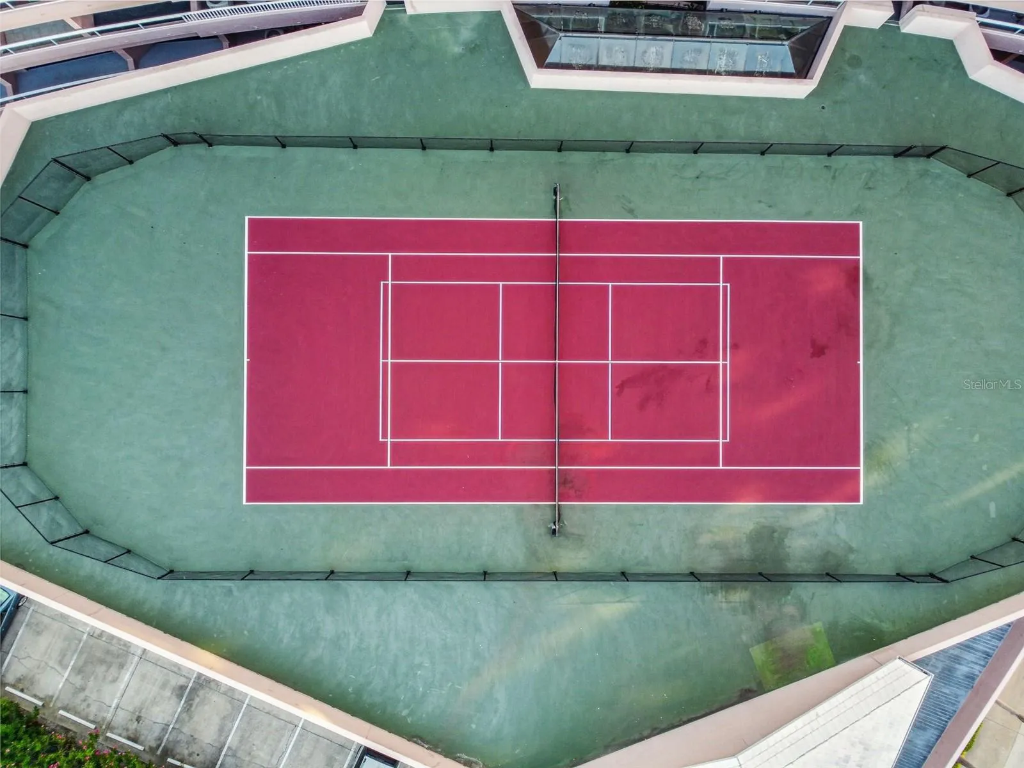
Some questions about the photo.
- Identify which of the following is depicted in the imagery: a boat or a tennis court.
tennis court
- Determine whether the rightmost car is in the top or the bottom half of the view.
bottom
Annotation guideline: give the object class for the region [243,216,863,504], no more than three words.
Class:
tennis court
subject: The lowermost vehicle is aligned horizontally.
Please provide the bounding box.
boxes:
[353,748,400,768]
